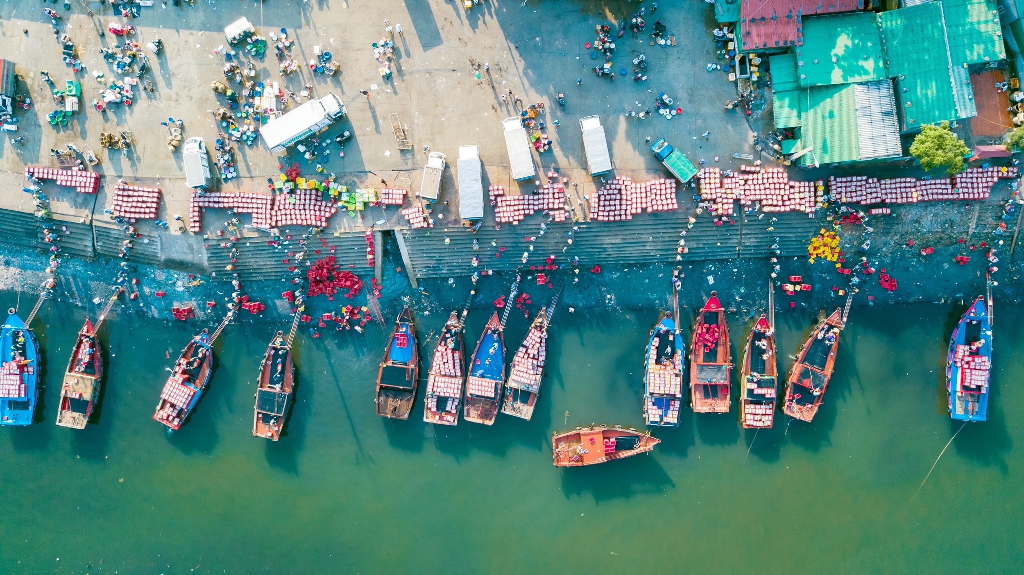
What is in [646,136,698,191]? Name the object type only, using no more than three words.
truck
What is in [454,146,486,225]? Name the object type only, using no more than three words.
truck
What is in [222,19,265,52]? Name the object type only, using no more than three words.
vehicle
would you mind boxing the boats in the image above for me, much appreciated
[500,303,555,421]
[250,328,296,442]
[687,289,732,413]
[942,292,993,421]
[54,316,106,432]
[374,303,421,421]
[735,310,778,429]
[150,325,215,433]
[423,309,468,427]
[0,307,48,426]
[780,303,846,424]
[551,423,663,468]
[462,309,509,426]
